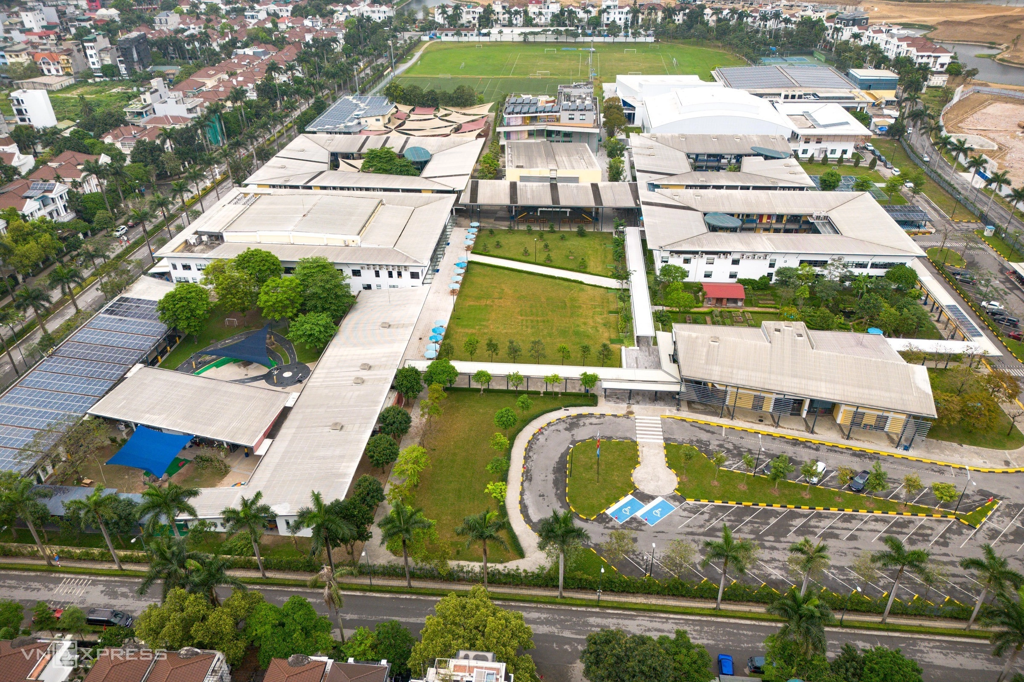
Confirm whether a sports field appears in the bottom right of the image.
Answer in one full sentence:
No, there's no sports field to be seen in the bottom right of the image.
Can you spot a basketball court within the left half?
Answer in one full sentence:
No, within the left half there is no basketball court.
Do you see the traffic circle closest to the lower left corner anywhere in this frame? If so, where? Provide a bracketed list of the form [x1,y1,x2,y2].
[260,360,313,388]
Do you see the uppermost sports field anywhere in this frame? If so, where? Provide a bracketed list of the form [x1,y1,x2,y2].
[396,42,759,82]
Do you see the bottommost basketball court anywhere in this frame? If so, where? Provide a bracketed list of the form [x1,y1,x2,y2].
[809,175,889,199]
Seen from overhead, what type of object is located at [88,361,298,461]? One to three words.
building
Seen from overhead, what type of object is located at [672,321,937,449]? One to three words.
building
